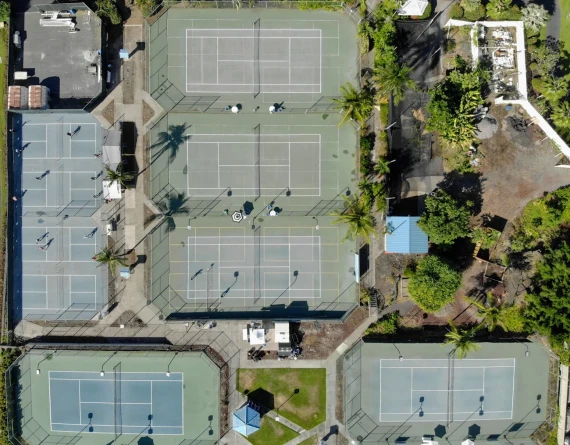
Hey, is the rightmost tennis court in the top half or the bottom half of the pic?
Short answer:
bottom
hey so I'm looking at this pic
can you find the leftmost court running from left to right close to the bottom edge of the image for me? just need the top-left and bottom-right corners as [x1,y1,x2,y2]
[13,349,220,445]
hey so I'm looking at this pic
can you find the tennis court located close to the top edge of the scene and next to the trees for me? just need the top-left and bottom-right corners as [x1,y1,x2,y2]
[150,7,358,113]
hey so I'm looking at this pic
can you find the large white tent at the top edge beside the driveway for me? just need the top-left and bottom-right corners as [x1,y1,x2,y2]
[394,0,428,21]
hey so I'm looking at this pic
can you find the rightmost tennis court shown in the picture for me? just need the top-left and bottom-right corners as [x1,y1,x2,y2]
[345,342,549,443]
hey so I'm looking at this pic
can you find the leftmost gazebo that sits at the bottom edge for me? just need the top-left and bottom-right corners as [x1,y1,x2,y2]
[234,403,259,437]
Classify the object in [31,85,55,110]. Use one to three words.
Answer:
shed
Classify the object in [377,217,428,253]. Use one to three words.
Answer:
building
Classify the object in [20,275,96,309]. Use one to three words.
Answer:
sports court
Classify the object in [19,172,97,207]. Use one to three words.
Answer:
sports court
